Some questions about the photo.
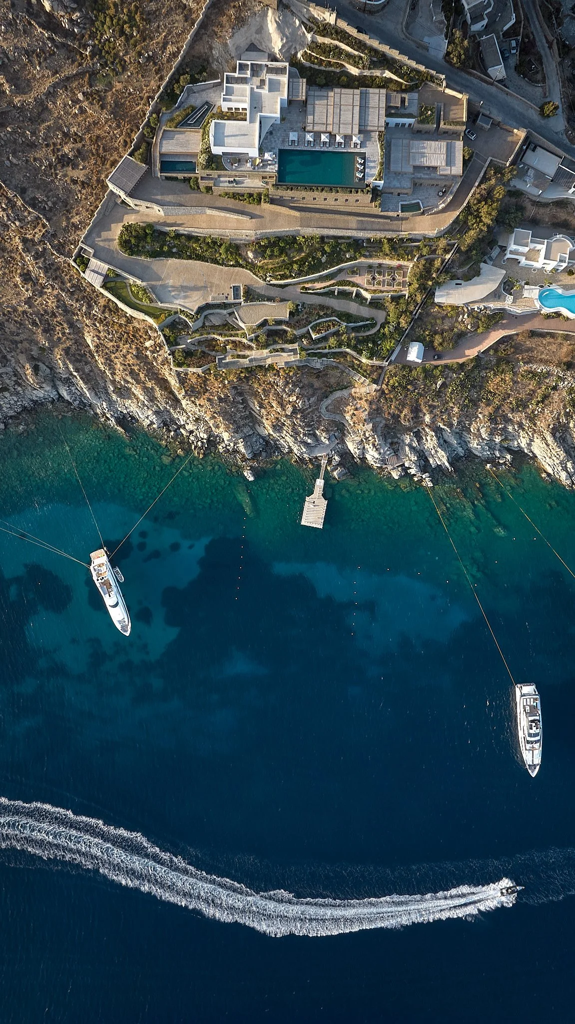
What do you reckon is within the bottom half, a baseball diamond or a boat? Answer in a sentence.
It is a boat that can be seen within the bottom half.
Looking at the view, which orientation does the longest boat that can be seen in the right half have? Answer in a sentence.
Seen from above, the longest boat that can be seen in the right half lies vertically.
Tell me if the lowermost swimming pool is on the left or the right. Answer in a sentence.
The lowermost swimming pool appears in the right half of the scene.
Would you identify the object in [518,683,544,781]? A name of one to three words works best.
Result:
boat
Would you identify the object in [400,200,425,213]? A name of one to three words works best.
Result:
swimming pool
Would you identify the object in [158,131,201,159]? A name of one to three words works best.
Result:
house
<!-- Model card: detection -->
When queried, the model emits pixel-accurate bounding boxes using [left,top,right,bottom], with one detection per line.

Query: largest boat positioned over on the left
[91,549,128,637]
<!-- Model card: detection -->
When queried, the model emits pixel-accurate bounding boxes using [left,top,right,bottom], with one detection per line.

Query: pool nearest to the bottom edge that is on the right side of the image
[537,284,575,320]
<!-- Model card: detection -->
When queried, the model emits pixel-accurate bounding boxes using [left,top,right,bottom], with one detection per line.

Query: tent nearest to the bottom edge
[407,339,425,362]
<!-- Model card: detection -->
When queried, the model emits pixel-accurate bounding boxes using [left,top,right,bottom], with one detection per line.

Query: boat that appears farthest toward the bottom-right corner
[499,886,526,898]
